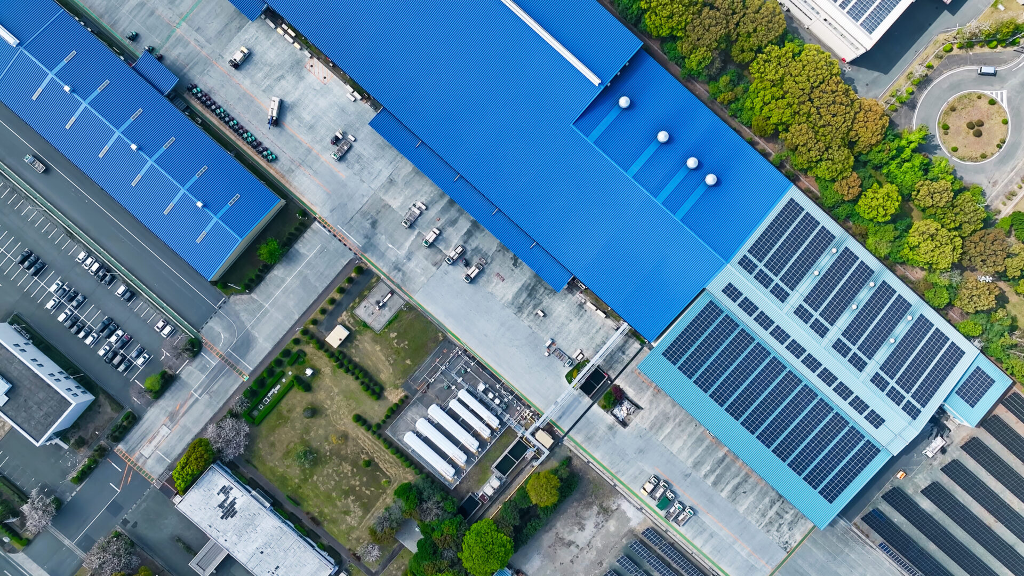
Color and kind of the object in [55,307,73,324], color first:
white vehicle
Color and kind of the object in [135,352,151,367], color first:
white car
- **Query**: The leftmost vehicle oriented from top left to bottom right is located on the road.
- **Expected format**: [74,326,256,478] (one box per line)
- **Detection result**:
[19,151,49,175]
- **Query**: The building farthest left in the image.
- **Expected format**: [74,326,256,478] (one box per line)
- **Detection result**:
[0,317,94,454]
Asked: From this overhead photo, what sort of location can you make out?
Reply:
industrial area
